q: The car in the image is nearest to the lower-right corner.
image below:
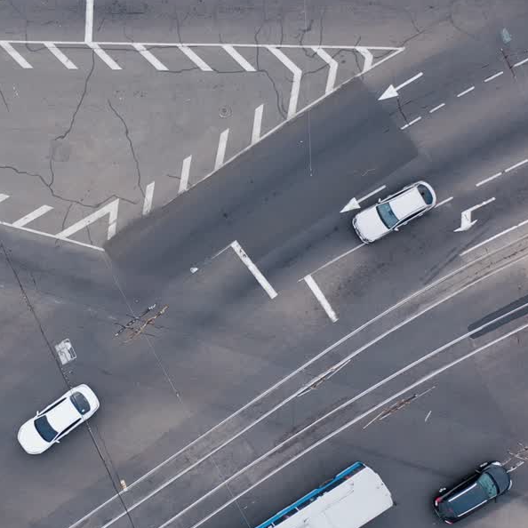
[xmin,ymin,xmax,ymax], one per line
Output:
[430,462,506,525]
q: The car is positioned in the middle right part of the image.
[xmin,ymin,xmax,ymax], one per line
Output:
[351,183,435,245]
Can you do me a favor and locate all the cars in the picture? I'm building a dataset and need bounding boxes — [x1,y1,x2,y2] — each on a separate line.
[18,386,99,454]
[430,462,506,525]
[351,183,435,245]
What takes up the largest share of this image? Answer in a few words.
paved ground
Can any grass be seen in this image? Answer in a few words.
No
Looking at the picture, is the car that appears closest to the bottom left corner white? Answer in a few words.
Yes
